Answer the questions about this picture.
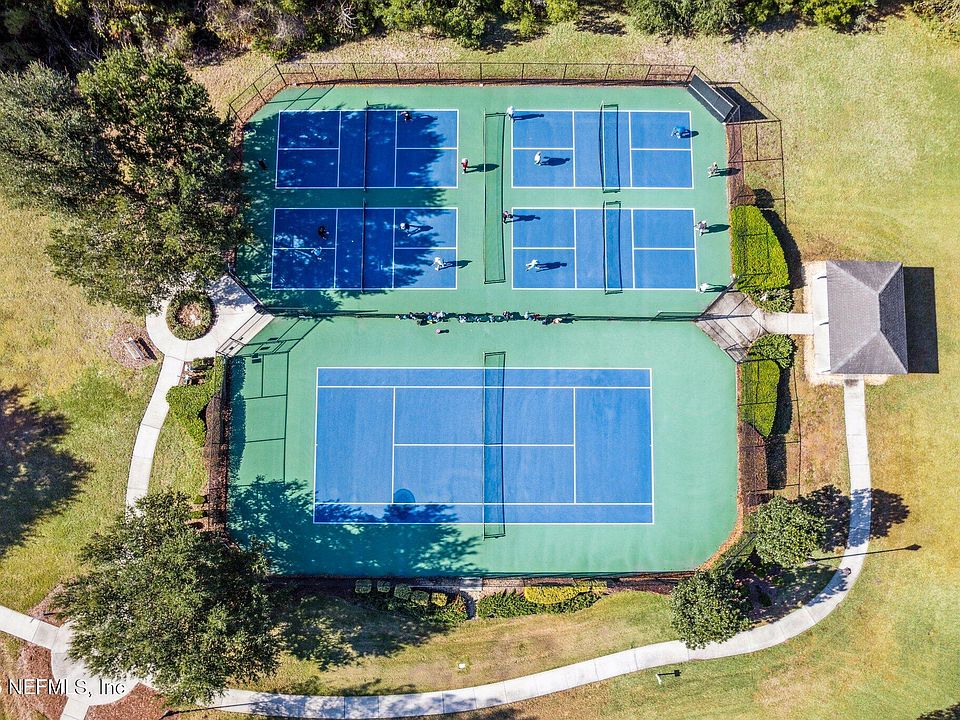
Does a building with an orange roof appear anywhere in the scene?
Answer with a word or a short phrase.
No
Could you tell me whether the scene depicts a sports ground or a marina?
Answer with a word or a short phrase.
sports ground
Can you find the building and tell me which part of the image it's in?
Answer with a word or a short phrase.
right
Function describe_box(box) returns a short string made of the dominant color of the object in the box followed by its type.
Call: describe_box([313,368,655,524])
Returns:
blue tennis court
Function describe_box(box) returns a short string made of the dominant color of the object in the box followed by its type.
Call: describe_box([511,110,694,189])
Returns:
blue sports court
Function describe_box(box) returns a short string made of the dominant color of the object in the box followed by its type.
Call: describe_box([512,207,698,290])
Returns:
blue sports court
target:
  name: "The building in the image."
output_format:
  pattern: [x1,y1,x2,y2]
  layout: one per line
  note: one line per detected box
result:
[813,260,908,375]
